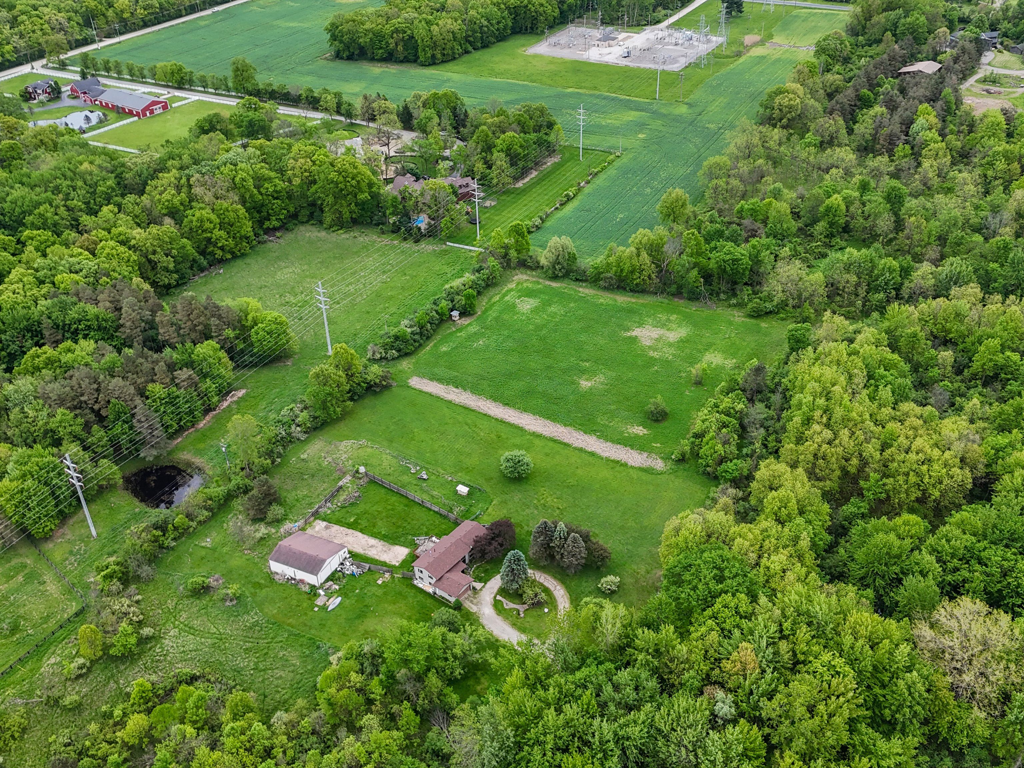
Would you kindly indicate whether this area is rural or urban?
rural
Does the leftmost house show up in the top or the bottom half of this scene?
top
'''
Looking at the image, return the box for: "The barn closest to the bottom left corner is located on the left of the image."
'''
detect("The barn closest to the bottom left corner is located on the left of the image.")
[268,529,344,586]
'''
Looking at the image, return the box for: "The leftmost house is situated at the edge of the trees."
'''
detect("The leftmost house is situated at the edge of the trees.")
[25,80,55,102]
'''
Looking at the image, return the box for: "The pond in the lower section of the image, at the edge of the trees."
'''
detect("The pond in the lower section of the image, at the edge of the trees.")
[126,463,205,509]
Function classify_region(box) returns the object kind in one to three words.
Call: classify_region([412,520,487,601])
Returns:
house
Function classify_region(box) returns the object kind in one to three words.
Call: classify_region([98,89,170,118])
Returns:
barn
